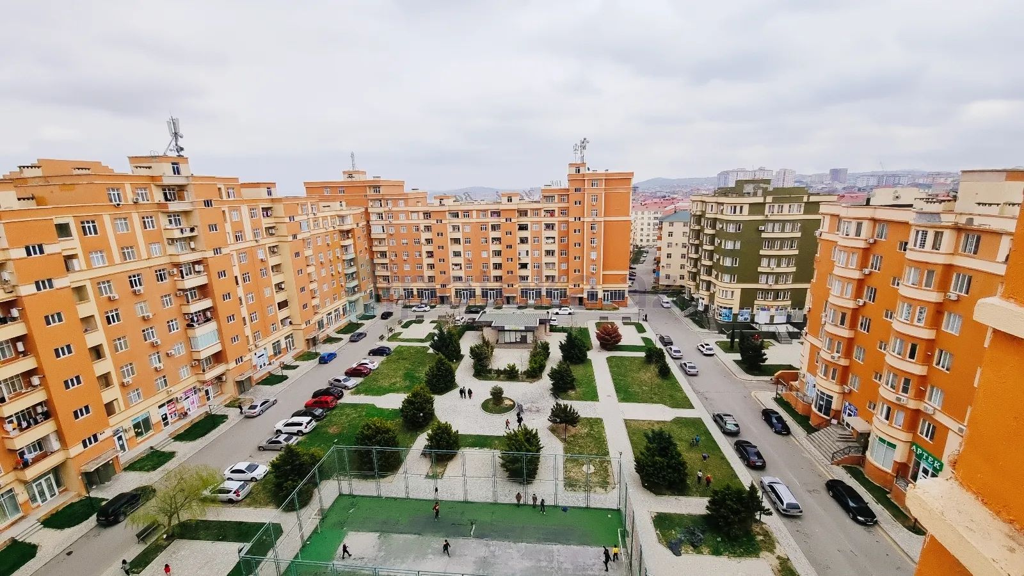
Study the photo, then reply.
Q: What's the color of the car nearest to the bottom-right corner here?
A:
black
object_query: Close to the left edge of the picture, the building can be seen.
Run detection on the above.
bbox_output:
[0,154,382,551]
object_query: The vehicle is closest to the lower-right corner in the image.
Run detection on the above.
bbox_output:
[823,475,879,522]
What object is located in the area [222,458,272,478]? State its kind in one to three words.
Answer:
car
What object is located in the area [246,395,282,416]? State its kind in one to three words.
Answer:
car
